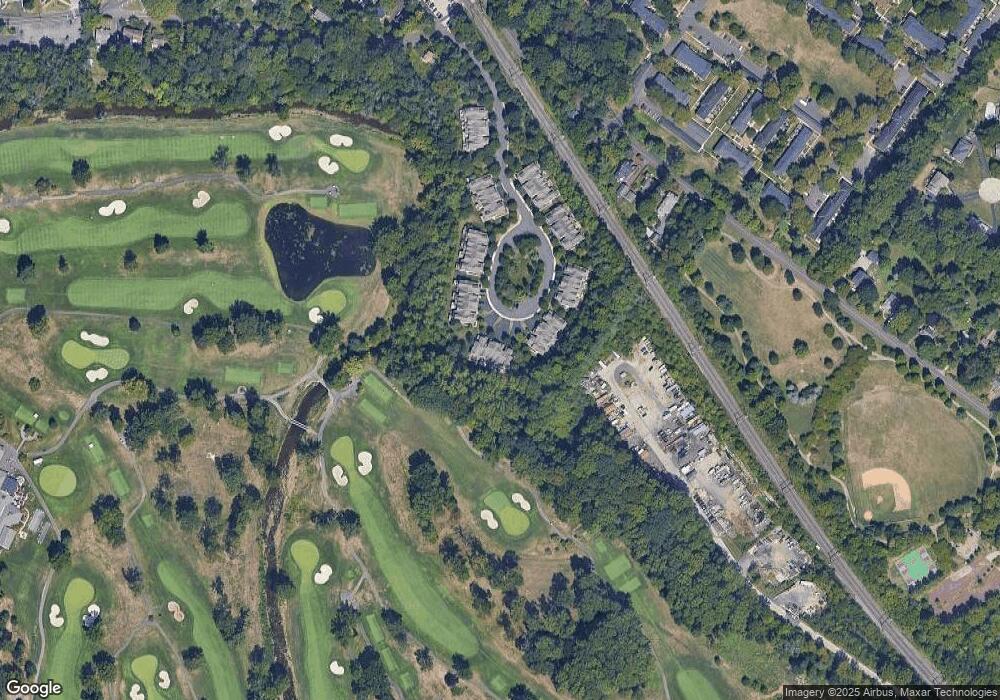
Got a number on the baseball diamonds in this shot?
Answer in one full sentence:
I count 1 baseball diamond.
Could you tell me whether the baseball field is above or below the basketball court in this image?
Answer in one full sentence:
Looking at the scene, the baseball field is located above the basketball court.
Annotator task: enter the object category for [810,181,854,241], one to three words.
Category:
building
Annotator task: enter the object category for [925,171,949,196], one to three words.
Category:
house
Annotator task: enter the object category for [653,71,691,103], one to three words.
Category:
building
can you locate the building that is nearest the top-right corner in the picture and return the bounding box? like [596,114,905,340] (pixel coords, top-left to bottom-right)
[953,0,985,40]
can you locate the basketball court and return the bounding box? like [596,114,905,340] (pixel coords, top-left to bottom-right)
[896,547,936,586]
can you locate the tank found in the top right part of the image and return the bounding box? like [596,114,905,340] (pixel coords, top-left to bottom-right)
[979,178,1000,203]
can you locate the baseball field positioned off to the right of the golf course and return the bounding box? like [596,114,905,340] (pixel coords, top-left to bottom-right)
[843,361,983,526]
